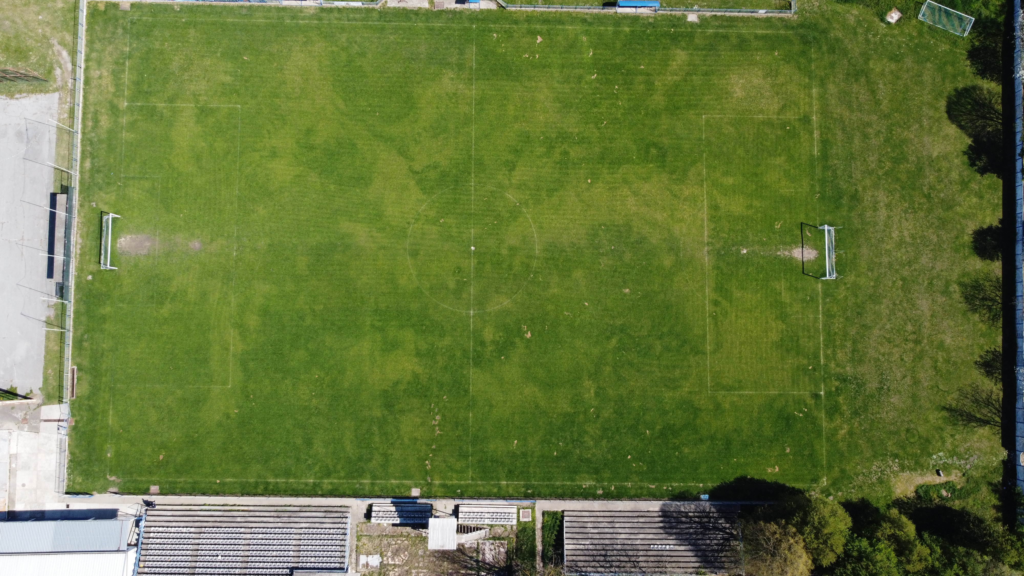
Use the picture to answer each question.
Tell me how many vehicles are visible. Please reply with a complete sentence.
The photo contains no vehicles.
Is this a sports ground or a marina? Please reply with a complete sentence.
The area seen from above is a sports ground.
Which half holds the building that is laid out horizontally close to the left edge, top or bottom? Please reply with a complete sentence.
It is in the bottom half that the building that is laid out horizontally close to the left edge appears.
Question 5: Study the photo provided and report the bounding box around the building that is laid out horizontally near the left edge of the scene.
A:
[0,518,138,576]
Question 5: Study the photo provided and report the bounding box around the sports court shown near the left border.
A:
[0,86,59,401]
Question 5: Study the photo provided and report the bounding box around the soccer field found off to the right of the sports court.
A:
[99,14,831,493]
